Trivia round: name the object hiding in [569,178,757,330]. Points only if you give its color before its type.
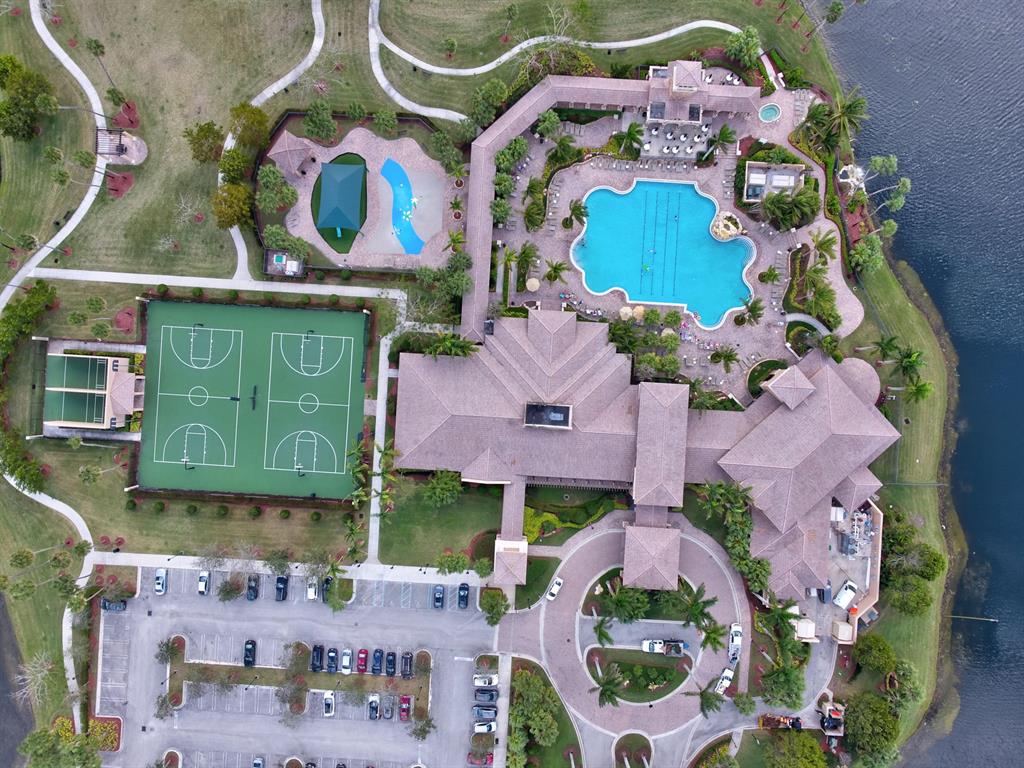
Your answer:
blue swimming pool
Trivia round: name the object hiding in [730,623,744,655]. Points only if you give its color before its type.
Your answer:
white vehicle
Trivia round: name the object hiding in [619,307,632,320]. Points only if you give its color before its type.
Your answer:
white umbrella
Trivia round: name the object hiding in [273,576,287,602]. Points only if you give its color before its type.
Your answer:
blue car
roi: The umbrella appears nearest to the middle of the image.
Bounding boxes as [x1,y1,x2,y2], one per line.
[526,278,540,292]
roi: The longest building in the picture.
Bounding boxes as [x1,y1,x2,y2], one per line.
[395,310,901,601]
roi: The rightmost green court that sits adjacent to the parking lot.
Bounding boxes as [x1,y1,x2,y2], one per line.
[247,307,365,501]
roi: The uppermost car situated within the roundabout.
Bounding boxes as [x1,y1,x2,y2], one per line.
[547,576,564,603]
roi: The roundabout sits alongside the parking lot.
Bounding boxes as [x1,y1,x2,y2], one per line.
[497,533,793,768]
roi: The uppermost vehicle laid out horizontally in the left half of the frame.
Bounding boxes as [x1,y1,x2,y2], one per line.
[100,600,126,613]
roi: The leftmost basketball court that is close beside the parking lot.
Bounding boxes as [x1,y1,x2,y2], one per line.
[139,301,256,495]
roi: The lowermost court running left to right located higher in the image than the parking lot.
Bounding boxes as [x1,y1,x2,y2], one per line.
[43,391,106,424]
